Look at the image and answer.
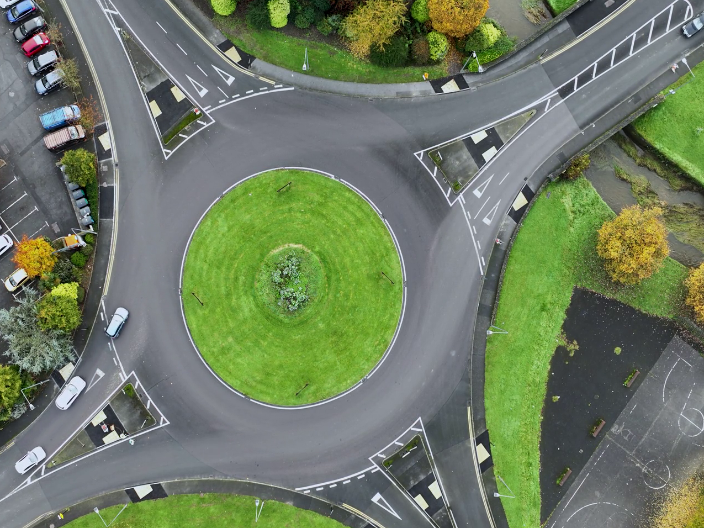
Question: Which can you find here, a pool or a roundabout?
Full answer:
I can see a roundabout in this picture.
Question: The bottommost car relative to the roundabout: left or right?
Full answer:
In the image, the bottommost car sits on the left side of the roundabout.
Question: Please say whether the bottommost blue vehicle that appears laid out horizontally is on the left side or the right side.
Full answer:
The bottommost blue vehicle that appears laid out horizontally appears in the left half of the scene.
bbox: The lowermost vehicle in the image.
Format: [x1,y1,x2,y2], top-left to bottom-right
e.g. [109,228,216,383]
[12,446,48,475]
